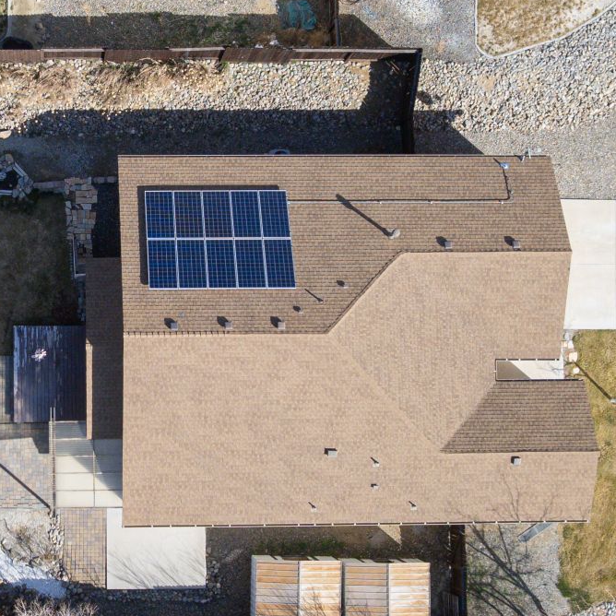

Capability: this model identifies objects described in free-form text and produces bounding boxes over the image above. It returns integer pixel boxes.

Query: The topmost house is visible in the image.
[84,153,600,531]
